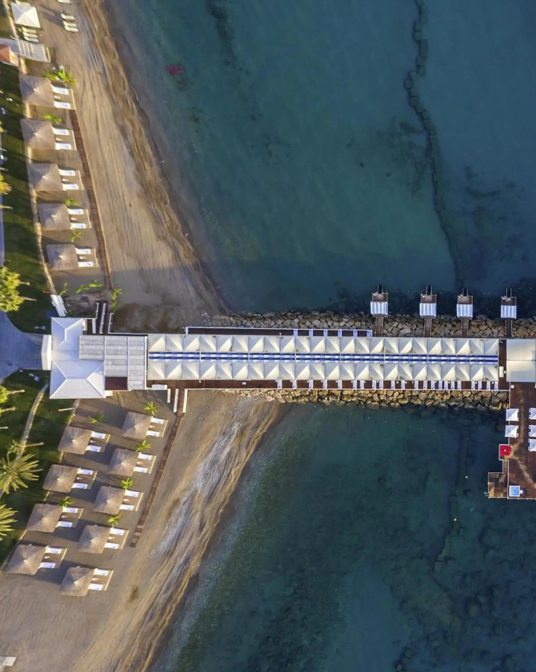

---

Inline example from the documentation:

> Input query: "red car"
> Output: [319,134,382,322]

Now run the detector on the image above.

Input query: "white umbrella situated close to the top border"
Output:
[11,2,40,28]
